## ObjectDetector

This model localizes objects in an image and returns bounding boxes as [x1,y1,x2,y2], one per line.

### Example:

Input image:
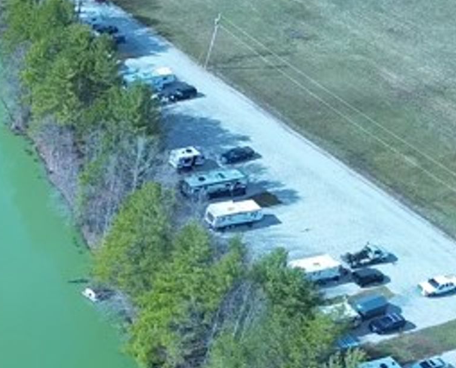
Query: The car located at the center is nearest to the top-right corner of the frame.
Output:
[222,145,255,160]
